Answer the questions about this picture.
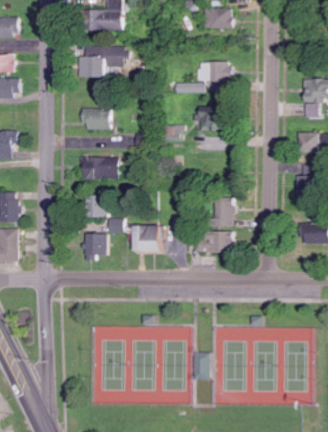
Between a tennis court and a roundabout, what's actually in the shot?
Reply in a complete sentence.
This aerial view contains a tennis court.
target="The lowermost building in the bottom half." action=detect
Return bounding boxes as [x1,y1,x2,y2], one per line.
[194,352,214,378]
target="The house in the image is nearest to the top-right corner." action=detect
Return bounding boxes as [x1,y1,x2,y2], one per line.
[303,78,328,103]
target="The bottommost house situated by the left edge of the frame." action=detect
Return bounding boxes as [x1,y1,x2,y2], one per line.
[0,228,23,262]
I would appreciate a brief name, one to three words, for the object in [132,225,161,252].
house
